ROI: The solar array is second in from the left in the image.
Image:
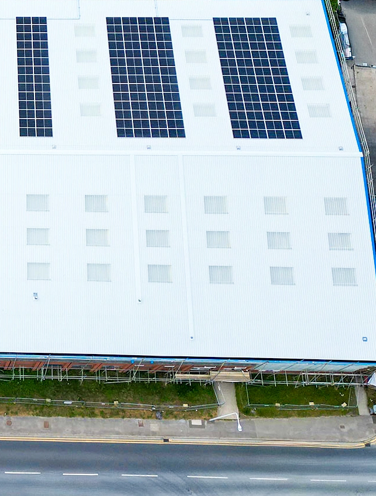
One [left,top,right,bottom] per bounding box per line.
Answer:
[107,17,186,139]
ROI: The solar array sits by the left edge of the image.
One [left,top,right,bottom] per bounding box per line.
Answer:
[16,16,53,137]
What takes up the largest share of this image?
buildings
